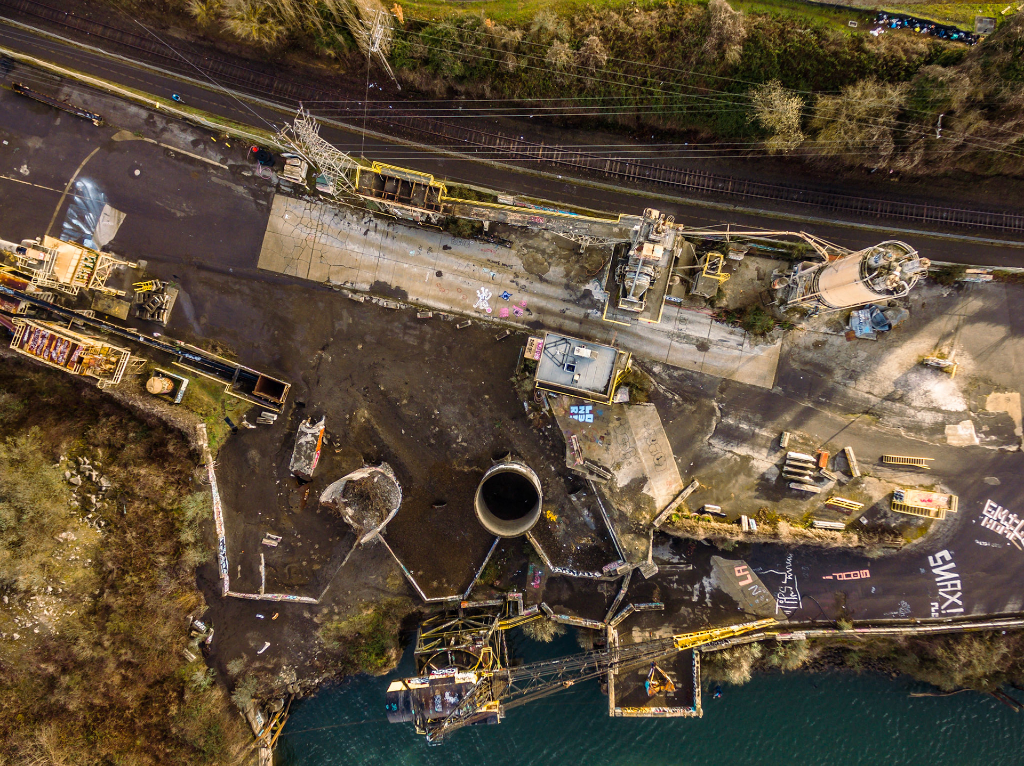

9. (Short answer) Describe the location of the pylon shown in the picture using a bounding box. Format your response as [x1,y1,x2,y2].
[284,101,374,199]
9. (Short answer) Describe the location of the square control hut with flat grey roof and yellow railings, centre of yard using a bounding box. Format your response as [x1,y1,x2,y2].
[535,332,634,406]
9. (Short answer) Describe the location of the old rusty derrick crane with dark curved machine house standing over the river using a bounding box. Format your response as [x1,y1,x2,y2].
[385,600,780,747]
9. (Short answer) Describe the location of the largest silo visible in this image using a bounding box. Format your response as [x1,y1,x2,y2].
[780,229,944,321]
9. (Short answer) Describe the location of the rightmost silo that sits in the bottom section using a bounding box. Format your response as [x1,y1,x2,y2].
[473,457,544,535]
